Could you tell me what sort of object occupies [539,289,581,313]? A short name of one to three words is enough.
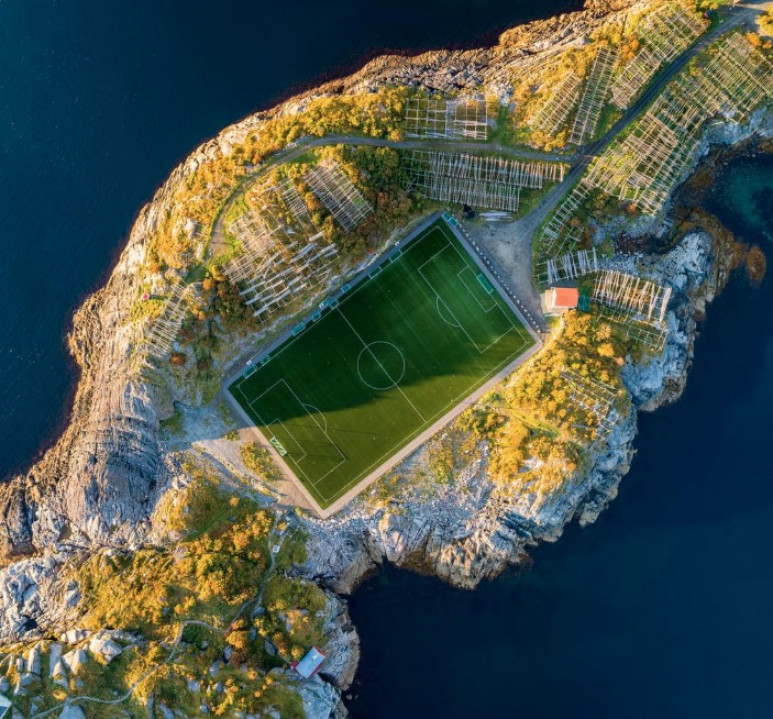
house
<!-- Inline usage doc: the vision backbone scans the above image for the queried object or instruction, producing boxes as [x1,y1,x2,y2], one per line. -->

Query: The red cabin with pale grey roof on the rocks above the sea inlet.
[292,642,328,678]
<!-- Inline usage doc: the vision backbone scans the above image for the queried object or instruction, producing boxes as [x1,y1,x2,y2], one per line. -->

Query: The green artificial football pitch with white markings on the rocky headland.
[219,210,546,517]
